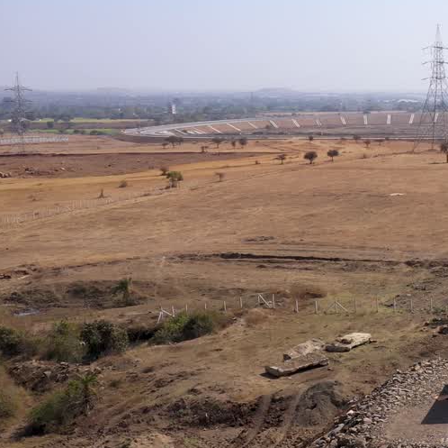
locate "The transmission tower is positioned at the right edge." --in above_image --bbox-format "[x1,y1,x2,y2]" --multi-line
[418,24,448,149]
